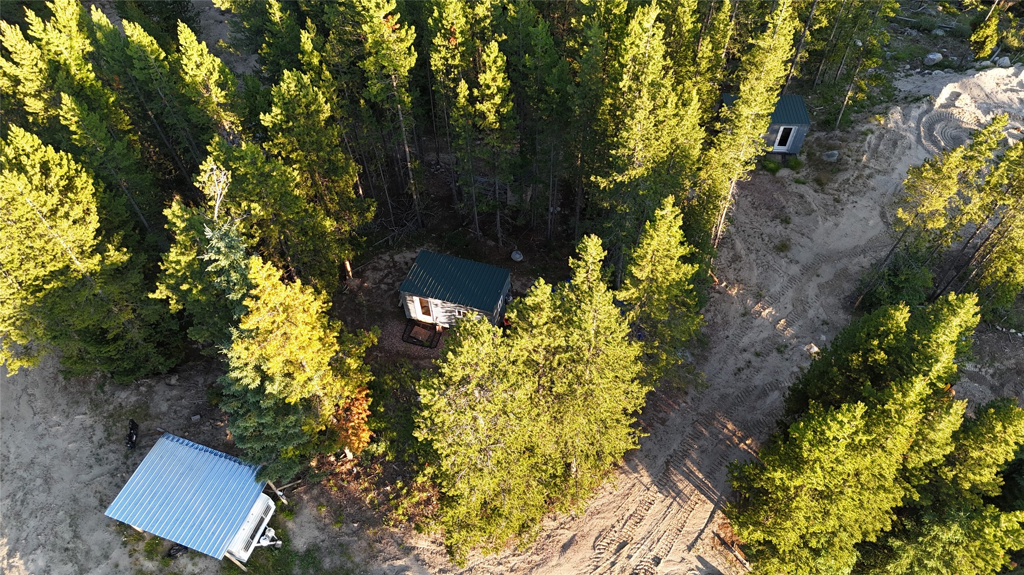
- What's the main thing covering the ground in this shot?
trees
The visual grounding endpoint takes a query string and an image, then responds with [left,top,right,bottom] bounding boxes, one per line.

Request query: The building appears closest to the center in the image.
[398,249,512,339]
